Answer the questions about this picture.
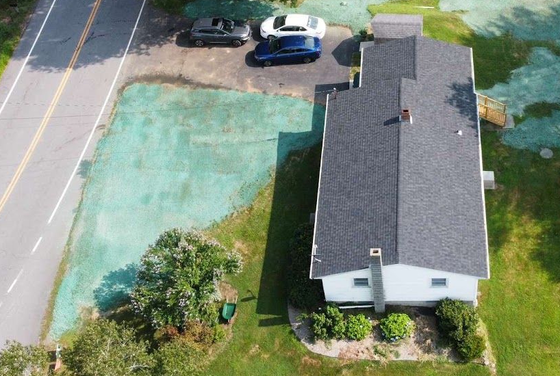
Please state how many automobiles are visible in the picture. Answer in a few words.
3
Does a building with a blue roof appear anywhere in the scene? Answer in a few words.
No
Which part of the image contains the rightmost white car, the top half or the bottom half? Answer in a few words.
top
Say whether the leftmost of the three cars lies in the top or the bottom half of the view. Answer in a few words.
top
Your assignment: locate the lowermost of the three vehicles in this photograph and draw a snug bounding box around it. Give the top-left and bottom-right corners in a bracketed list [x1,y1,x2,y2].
[252,35,321,67]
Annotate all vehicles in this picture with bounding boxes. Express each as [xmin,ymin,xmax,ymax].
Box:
[257,11,326,40]
[184,15,252,49]
[252,35,321,67]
